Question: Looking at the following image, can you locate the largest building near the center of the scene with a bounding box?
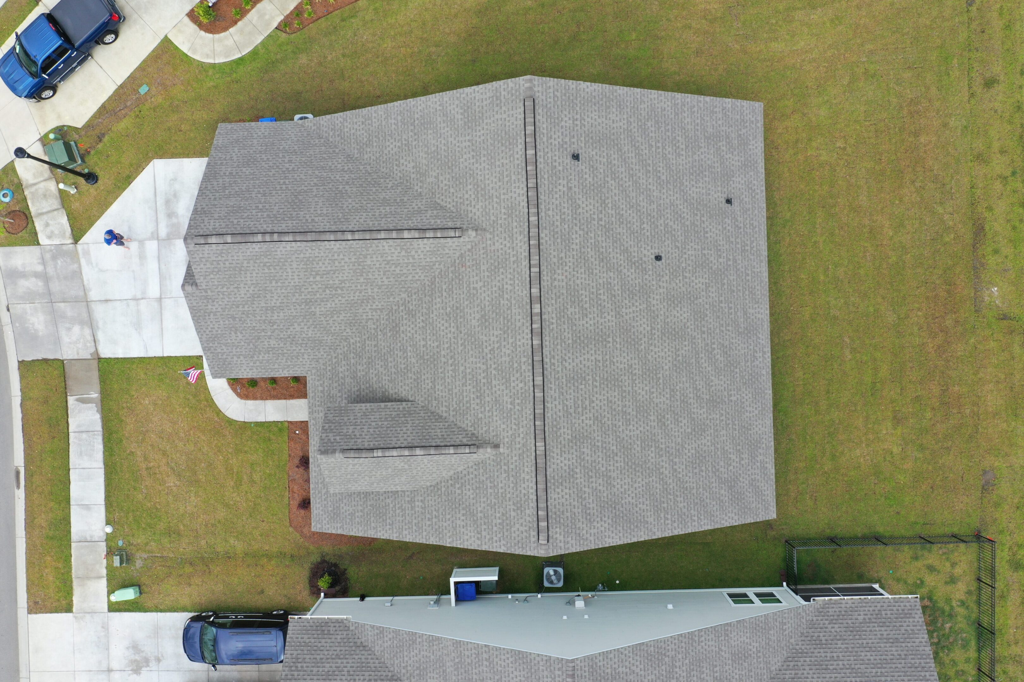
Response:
[182,74,776,556]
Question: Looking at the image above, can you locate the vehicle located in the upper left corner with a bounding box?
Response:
[0,0,130,110]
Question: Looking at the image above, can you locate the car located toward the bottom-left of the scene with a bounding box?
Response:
[180,608,298,672]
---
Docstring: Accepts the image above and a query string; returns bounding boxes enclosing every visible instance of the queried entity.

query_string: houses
[284,577,934,682]
[182,74,776,556]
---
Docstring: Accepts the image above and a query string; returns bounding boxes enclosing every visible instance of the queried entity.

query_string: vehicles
[0,0,130,110]
[180,608,298,672]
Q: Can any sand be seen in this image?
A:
No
